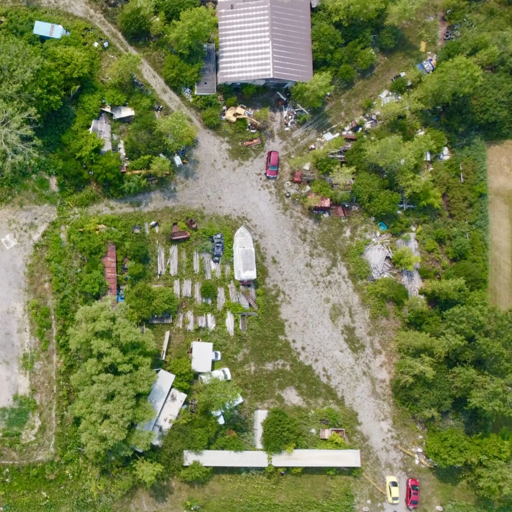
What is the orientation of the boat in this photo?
from top to bottom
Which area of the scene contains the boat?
center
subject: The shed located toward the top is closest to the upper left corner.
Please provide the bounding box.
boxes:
[94,109,127,156]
